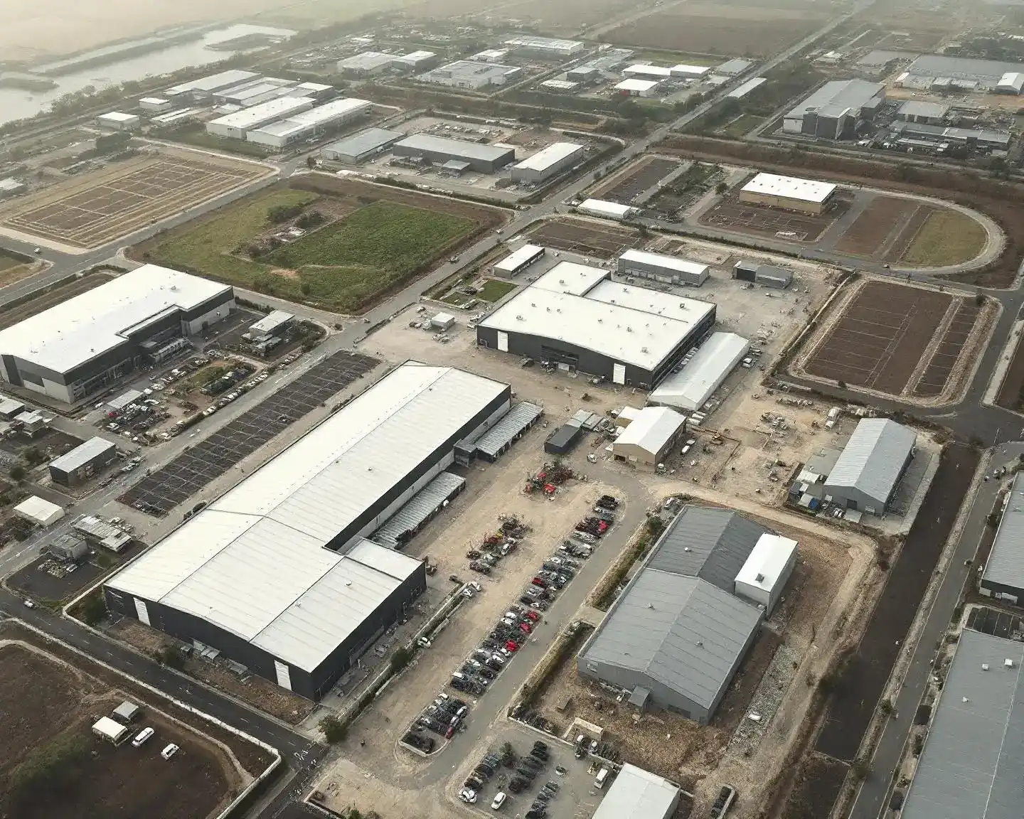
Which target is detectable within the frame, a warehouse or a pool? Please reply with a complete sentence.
I can see a warehouse in this picture.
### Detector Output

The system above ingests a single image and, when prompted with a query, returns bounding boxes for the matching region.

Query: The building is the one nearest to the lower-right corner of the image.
[896,627,1024,819]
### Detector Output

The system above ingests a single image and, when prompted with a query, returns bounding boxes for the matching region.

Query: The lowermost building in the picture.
[587,762,681,819]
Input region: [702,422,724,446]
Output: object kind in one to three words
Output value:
work vehicle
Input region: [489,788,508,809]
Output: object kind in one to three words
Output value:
car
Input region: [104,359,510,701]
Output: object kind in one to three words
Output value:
warehouse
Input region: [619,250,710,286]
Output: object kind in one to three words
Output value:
building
